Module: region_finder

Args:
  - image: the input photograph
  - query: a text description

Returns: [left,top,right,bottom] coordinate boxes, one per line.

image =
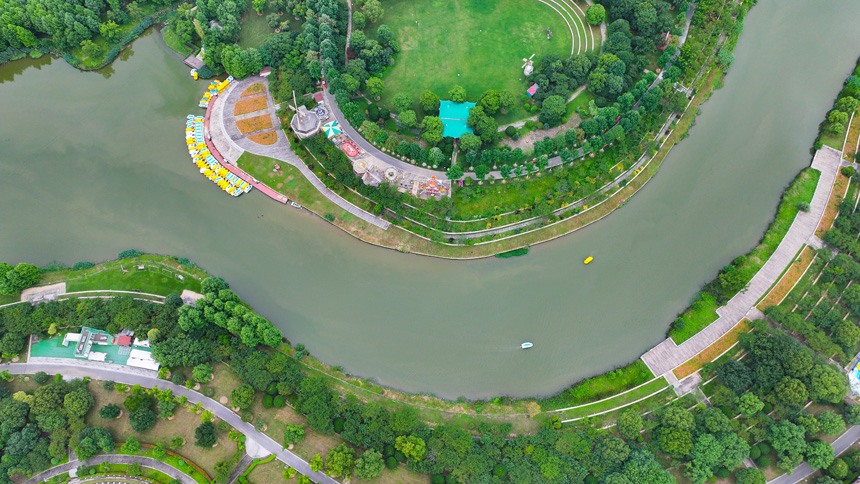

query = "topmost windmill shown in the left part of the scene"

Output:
[285,89,321,139]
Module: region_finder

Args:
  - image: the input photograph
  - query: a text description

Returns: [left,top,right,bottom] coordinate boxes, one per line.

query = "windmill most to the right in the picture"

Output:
[522,52,536,79]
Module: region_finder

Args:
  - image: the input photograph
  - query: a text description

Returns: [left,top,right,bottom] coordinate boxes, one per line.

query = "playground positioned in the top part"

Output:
[412,173,452,198]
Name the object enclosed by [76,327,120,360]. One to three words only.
building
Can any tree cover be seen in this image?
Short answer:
Yes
